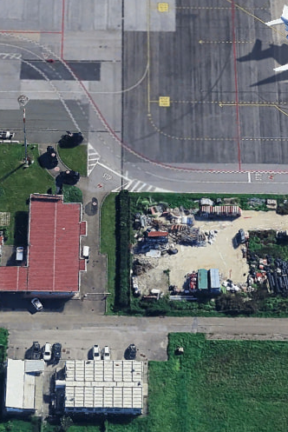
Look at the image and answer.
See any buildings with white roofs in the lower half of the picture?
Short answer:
Yes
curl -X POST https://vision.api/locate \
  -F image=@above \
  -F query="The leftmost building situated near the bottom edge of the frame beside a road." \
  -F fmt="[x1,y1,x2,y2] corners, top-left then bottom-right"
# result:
[4,359,44,417]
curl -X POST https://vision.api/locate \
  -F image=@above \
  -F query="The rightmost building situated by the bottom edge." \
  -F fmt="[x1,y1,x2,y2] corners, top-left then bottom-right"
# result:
[65,360,144,415]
